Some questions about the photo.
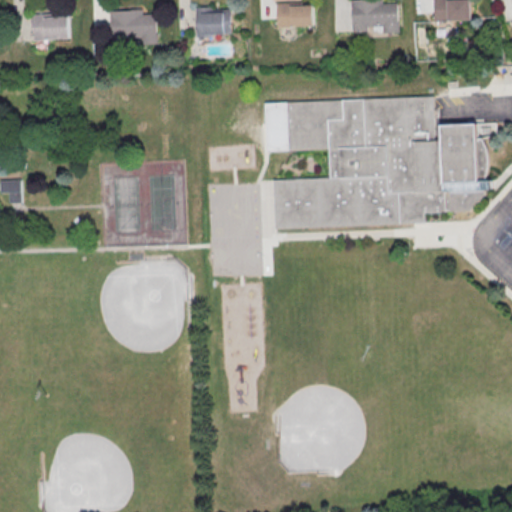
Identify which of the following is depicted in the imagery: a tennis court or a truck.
tennis court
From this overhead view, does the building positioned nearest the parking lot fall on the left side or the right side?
right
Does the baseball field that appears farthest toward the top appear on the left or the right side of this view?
left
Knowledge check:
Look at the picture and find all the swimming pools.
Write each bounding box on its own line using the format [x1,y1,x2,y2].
[206,45,232,57]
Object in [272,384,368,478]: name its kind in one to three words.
baseball field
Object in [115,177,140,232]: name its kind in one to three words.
tennis court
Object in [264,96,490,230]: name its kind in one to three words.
building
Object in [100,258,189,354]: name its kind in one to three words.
baseball field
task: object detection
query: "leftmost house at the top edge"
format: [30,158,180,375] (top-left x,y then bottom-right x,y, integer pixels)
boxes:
[30,13,72,45]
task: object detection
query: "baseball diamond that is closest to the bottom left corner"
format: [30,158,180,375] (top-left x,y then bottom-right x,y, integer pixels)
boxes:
[43,432,136,512]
